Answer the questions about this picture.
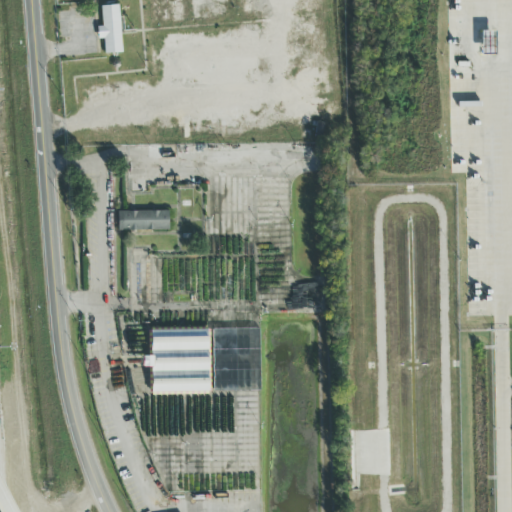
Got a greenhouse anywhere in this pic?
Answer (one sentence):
Yes, a greenhouse is visible in the scene.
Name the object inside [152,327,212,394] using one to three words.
greenhouse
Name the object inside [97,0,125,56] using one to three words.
building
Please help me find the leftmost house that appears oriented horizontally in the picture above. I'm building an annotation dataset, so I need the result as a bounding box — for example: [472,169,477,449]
[119,210,170,234]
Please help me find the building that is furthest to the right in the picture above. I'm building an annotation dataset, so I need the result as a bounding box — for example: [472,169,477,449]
[214,328,260,388]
